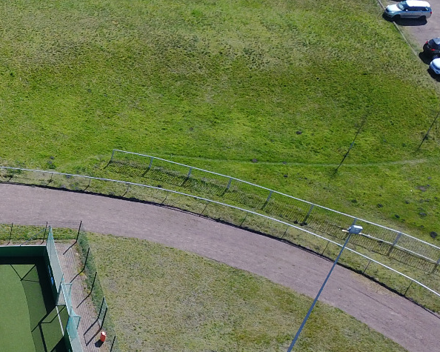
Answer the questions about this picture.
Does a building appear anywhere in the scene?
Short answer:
No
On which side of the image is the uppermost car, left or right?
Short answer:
right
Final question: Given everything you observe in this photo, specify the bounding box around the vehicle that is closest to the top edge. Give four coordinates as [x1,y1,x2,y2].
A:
[381,1,435,24]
